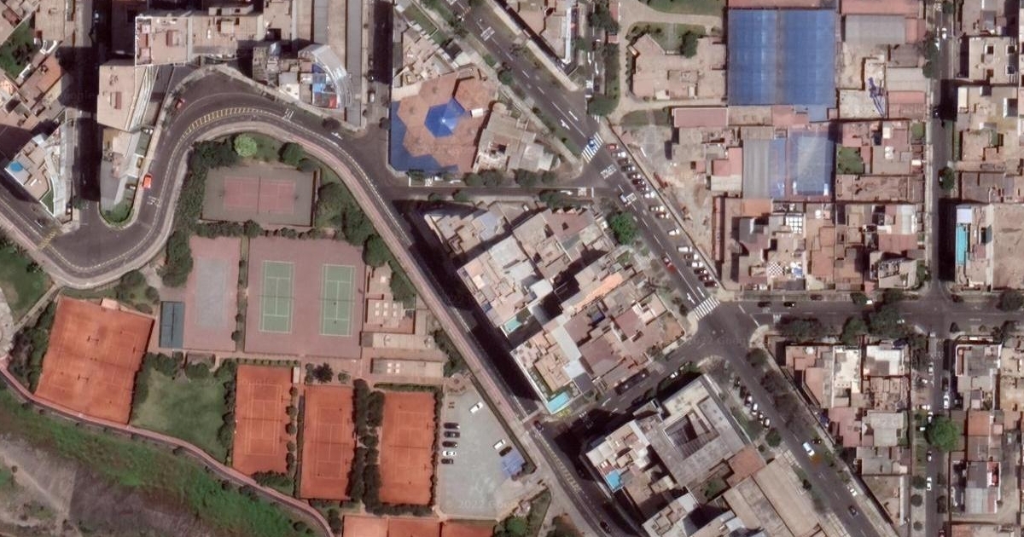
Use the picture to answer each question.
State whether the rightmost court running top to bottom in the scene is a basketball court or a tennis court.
tennis court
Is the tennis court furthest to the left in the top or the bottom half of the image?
bottom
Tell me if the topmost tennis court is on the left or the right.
left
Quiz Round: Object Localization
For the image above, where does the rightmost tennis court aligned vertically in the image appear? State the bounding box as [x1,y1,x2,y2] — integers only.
[378,392,434,504]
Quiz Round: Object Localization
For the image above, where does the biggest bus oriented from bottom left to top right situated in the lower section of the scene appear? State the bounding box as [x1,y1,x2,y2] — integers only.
[616,370,648,393]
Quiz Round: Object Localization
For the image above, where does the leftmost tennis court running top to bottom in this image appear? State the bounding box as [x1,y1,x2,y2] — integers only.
[35,296,107,410]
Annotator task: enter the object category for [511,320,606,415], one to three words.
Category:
building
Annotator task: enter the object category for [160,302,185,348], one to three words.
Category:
sports court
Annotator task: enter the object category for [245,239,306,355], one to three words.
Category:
tennis court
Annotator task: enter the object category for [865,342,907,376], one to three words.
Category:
house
